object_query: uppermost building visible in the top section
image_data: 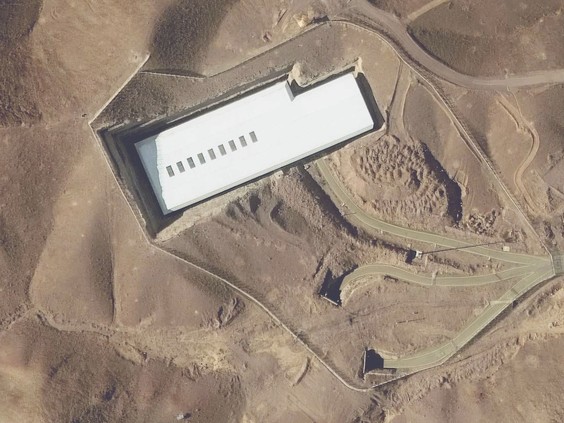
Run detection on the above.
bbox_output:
[137,74,375,213]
